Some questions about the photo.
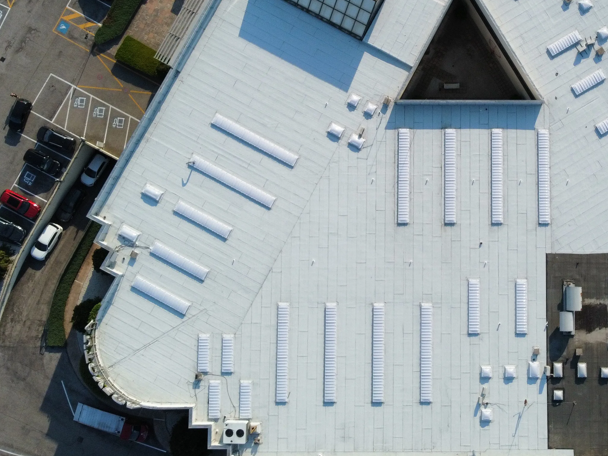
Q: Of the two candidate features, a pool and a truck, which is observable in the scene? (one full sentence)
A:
Of the two, only a truck appears.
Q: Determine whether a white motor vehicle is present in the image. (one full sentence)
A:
Yes, there's a white motor vehicle down there.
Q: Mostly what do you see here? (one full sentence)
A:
The largest share of the image is taken up by buildings.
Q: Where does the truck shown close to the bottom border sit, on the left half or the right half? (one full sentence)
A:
The truck shown close to the bottom border sits on the left side.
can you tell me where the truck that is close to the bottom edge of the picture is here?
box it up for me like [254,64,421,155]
[73,396,158,435]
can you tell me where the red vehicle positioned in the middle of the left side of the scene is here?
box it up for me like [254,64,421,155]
[0,187,41,218]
